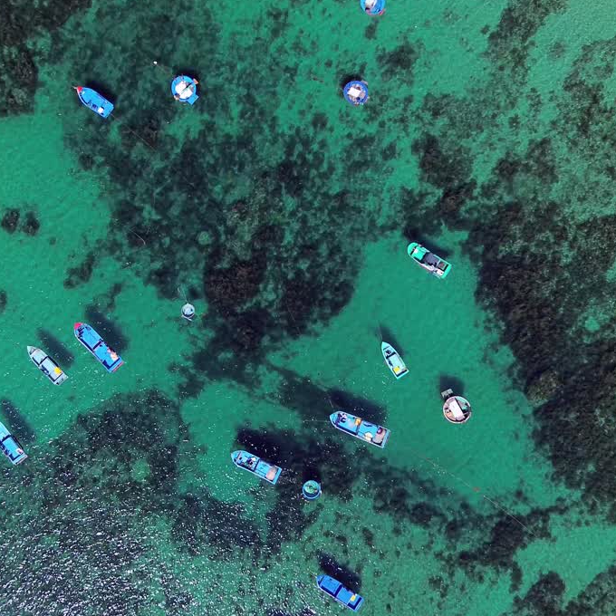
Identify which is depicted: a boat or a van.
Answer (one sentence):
I can see a boat in this picture.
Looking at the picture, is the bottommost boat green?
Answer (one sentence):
No, the bottommost boat is actually blue.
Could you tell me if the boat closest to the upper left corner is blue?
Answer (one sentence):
Yes, the boat closest to the upper left corner appears blue.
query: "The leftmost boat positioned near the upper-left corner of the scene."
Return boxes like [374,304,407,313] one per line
[72,84,116,119]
